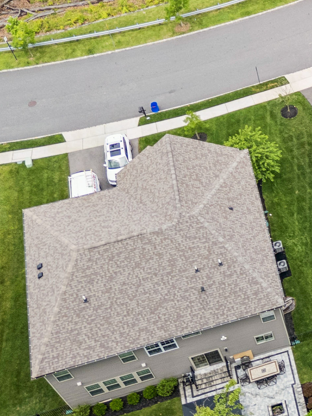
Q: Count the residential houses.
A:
1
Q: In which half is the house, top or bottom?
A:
bottom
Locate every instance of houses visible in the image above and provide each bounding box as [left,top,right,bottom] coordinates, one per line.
[23,134,291,409]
